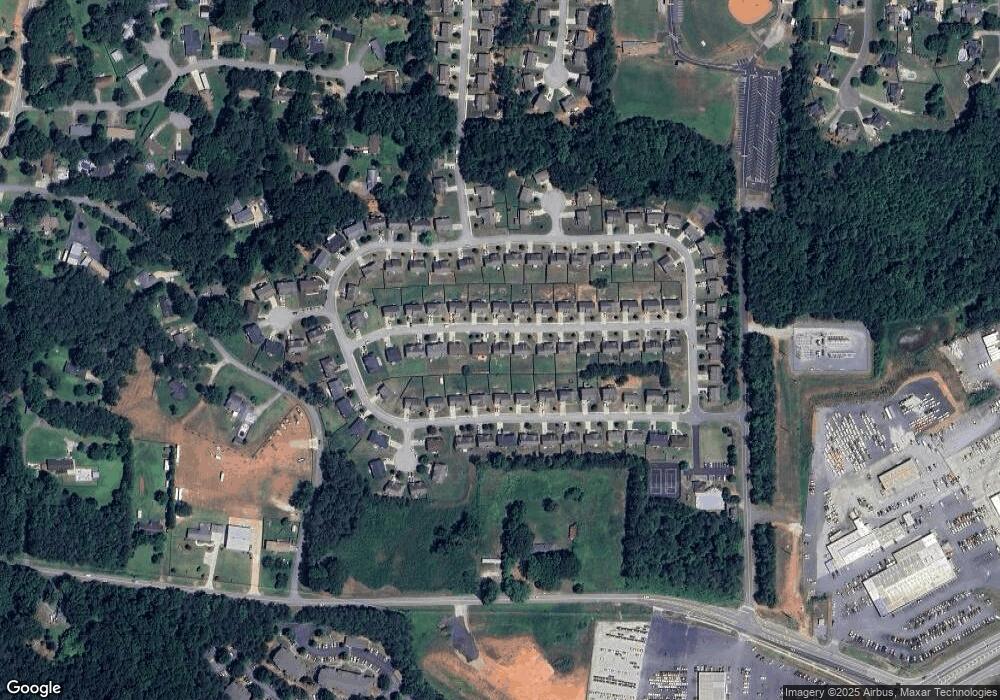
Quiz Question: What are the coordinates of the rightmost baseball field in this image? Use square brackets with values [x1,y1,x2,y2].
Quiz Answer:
[685,0,776,54]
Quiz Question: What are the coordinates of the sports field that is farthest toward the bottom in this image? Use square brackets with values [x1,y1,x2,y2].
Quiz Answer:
[617,61,734,144]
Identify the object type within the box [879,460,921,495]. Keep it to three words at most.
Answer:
building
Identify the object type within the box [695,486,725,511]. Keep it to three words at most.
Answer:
building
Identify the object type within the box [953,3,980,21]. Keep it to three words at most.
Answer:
house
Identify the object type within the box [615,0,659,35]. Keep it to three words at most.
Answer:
sports field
